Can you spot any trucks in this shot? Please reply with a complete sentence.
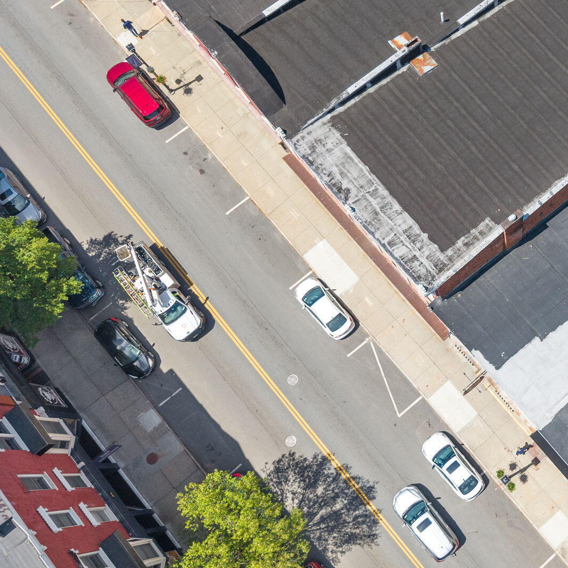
Yes, there's a truck here.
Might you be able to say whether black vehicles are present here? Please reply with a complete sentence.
Yes, the image includes a black vehicle.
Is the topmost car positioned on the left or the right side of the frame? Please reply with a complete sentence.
It is on the left.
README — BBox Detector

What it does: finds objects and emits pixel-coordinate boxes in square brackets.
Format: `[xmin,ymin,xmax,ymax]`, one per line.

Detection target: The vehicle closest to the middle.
[295,274,359,345]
